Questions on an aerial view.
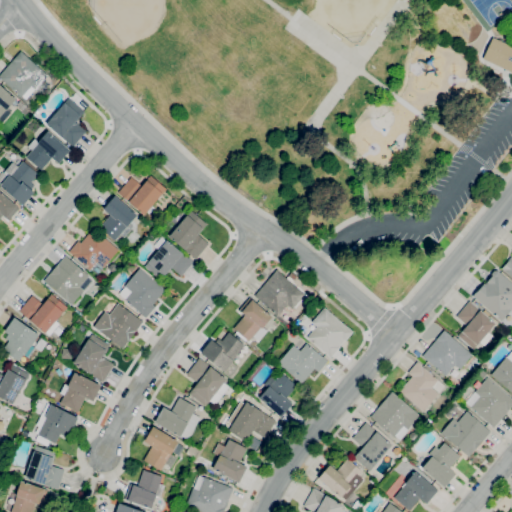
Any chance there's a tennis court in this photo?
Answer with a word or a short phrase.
No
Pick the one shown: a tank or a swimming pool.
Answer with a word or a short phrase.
swimming pool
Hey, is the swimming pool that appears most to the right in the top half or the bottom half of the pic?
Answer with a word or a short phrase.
bottom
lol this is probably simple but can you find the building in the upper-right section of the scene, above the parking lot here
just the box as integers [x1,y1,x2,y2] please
[484,38,512,68]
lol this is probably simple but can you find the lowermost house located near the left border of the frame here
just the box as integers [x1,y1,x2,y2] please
[10,482,48,512]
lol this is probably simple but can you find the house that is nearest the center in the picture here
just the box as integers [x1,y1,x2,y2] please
[255,270,303,317]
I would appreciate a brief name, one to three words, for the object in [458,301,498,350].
house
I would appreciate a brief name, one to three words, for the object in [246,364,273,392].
swimming pool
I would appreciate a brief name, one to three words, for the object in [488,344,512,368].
swimming pool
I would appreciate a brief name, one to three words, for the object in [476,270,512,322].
house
